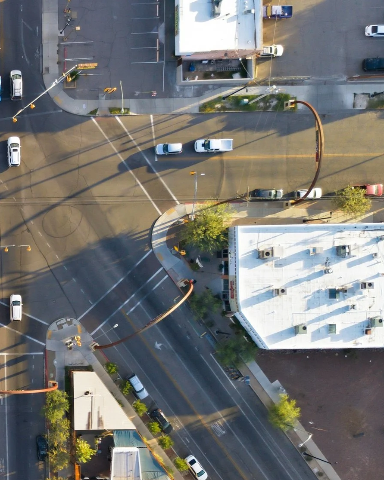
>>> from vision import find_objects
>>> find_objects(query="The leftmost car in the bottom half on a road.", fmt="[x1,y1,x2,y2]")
[8,293,21,321]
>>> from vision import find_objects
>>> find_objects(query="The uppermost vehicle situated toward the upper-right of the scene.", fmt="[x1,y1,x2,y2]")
[263,3,297,19]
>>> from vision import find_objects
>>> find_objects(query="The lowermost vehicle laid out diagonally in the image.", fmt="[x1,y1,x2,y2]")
[183,452,207,480]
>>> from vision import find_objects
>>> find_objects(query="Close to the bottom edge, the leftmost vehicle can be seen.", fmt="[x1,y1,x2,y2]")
[35,433,48,461]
